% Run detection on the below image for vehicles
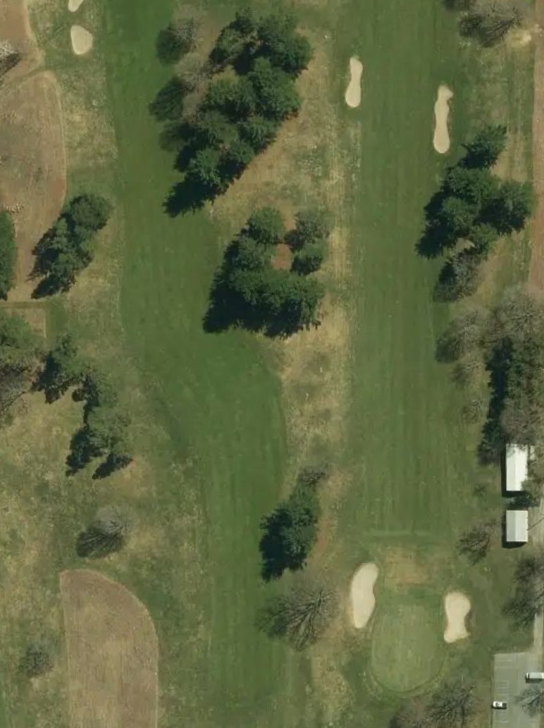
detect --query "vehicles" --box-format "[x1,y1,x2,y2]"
[492,702,508,707]
[526,673,544,680]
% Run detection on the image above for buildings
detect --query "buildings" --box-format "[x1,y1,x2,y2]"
[507,510,529,542]
[507,443,529,490]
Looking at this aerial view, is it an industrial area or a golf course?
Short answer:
golf course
